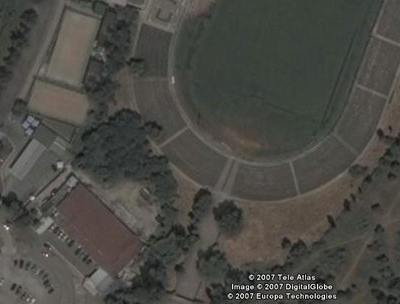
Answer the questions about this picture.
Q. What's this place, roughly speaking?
sports ground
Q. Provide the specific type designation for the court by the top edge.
tennis court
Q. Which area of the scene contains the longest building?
bottom left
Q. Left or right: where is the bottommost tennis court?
left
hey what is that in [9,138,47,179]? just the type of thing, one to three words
shed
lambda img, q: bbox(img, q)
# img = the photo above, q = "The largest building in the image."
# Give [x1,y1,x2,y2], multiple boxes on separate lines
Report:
[58,184,143,277]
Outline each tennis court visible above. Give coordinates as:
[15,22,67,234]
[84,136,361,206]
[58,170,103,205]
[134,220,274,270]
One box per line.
[47,9,98,87]
[27,80,88,125]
